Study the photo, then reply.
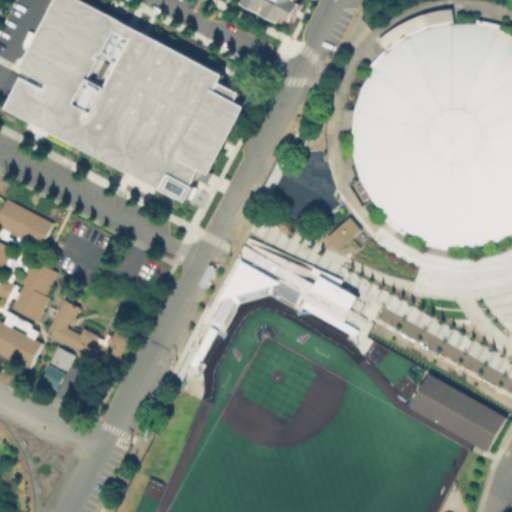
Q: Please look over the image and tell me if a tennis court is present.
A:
No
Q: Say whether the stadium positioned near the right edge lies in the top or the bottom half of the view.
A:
top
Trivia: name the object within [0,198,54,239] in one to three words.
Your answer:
house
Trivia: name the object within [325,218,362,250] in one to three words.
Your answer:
building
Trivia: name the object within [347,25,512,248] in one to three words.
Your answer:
stadium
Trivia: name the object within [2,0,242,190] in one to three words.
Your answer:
building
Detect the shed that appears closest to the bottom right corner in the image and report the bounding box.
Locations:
[410,374,507,452]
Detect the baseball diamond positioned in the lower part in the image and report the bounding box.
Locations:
[157,297,484,512]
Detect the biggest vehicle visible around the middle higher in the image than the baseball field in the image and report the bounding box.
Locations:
[200,264,216,288]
